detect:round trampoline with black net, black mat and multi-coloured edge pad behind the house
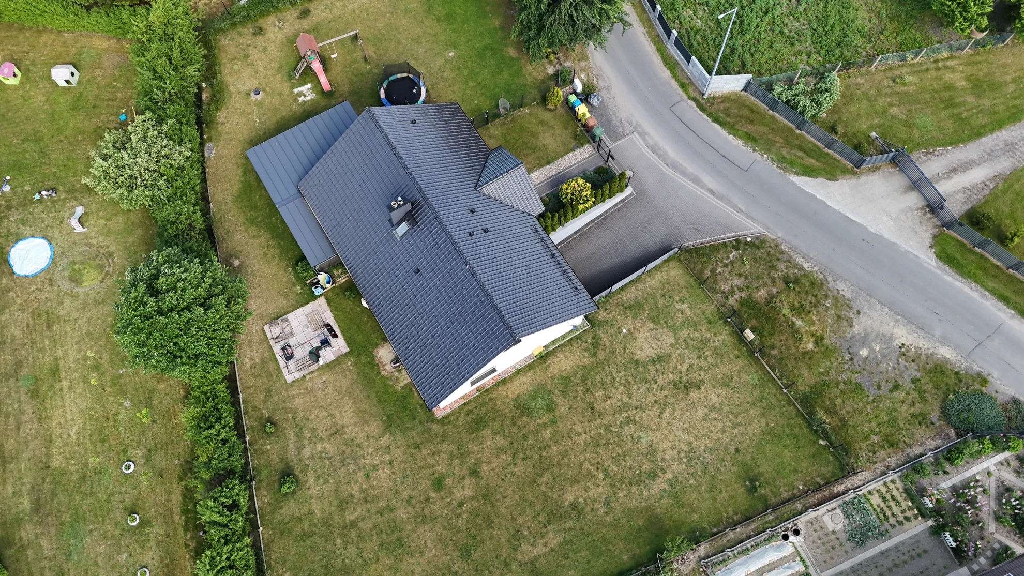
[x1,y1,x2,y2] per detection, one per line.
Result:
[376,59,426,105]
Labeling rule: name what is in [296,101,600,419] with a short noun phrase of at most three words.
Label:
house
